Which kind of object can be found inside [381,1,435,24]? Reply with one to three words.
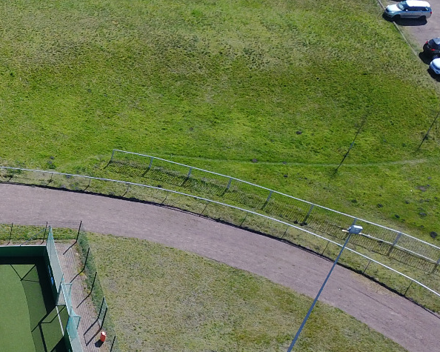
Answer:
car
